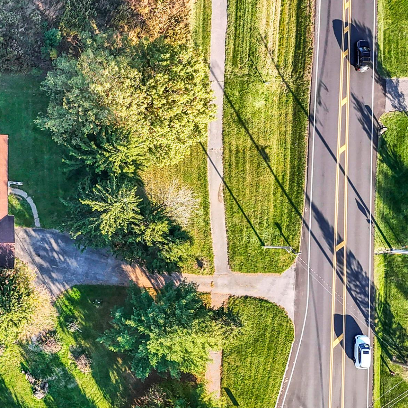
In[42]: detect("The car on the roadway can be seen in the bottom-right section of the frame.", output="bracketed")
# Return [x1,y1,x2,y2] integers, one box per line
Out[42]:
[354,336,373,370]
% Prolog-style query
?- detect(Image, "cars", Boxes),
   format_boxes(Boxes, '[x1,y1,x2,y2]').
[357,38,377,72]
[354,336,373,370]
